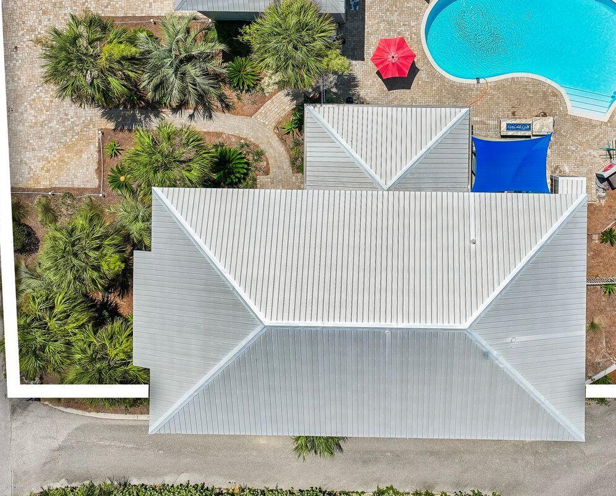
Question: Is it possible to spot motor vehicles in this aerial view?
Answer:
No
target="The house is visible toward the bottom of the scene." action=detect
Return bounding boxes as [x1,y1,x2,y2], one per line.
[134,188,587,442]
